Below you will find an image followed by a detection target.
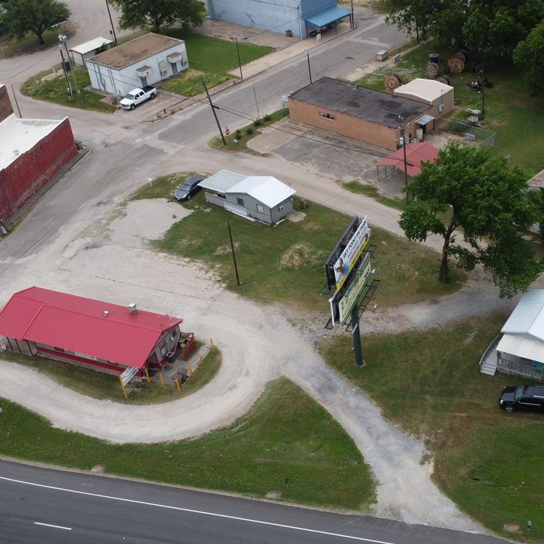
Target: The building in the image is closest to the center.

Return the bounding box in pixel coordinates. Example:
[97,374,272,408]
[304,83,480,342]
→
[198,170,295,223]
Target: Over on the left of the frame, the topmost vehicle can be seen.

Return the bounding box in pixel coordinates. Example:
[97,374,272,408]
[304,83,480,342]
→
[119,86,159,109]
